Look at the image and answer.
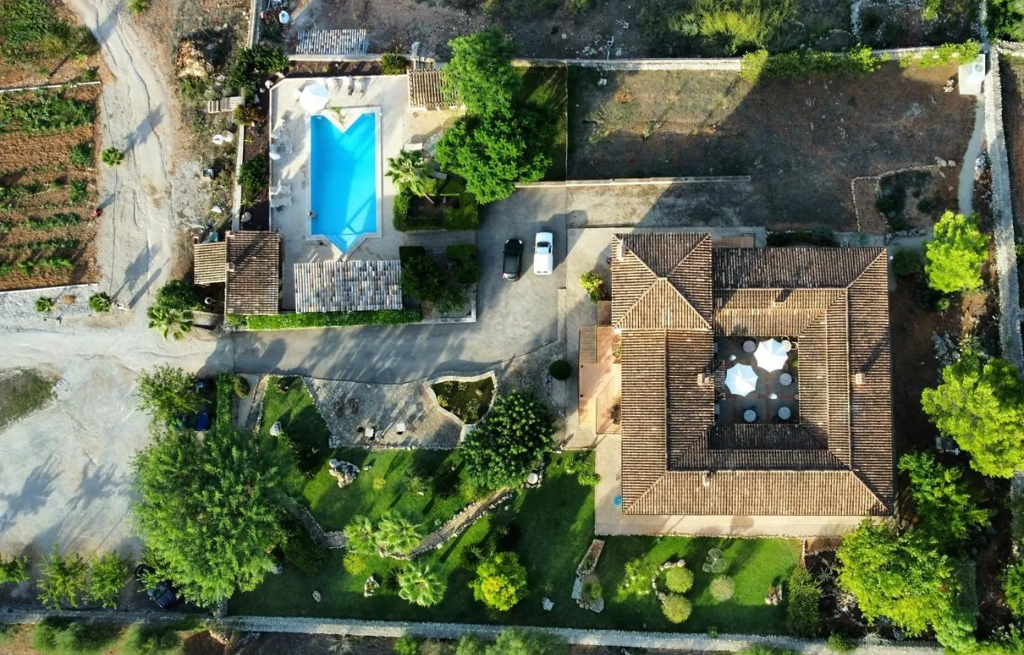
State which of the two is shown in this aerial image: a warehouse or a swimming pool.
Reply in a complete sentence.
There is a swimming pool in the scene.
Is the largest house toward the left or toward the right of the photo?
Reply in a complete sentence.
The largest house appears in the right half of the scene.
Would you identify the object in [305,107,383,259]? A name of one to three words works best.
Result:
swimming pool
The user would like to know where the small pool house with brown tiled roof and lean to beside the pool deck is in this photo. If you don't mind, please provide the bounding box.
[192,229,283,313]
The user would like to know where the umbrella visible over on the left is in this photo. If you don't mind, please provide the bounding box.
[300,84,331,114]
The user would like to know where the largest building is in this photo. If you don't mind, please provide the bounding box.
[610,231,897,517]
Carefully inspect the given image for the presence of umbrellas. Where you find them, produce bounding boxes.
[753,338,786,372]
[300,84,331,114]
[727,364,755,395]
